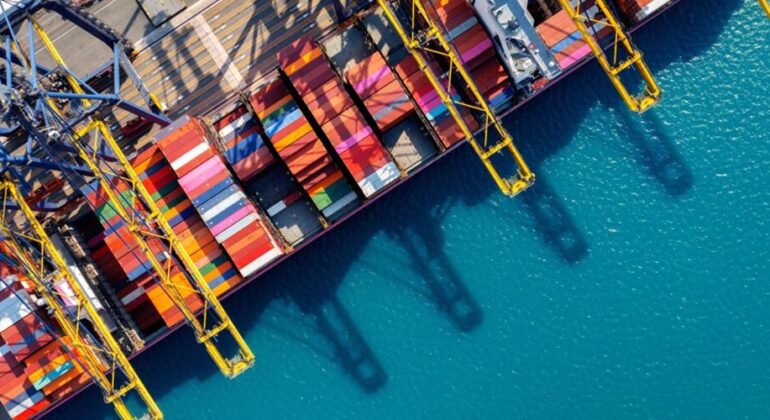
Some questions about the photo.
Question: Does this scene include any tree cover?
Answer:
No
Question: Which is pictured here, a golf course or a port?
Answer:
port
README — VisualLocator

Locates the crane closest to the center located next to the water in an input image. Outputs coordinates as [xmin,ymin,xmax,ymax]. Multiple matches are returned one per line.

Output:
[326,0,541,201]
